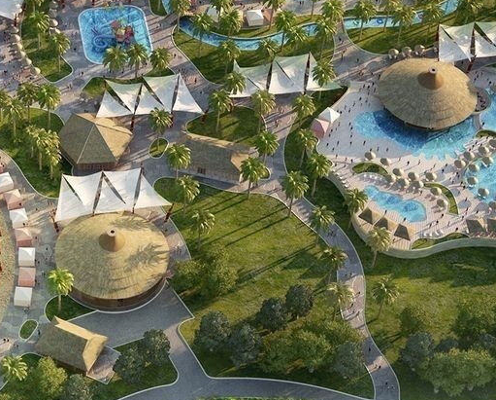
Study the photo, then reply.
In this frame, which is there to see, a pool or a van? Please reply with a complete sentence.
Visible in the photo is a pool.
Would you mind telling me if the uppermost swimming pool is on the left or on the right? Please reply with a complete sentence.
The uppermost swimming pool sits on the left side.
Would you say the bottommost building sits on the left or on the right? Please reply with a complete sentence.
The bottommost building sits on the left side.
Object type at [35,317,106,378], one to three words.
building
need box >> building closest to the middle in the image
[180,136,256,180]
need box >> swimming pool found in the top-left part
[83,4,151,61]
